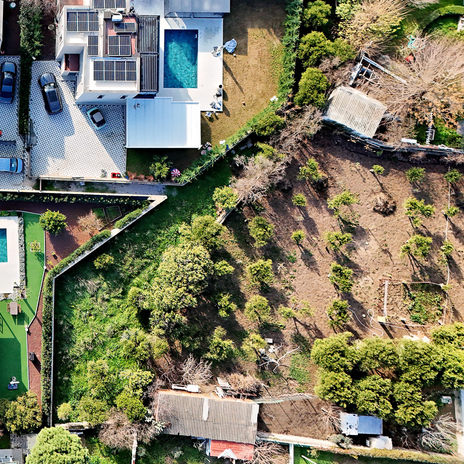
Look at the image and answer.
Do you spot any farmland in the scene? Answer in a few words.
Yes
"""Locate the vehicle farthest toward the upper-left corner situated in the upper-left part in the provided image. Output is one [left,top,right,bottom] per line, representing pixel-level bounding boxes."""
[0,64,17,103]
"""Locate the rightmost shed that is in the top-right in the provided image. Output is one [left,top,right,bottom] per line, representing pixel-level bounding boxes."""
[315,83,389,137]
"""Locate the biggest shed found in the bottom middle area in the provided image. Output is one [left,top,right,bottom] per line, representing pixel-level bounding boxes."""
[154,390,259,445]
